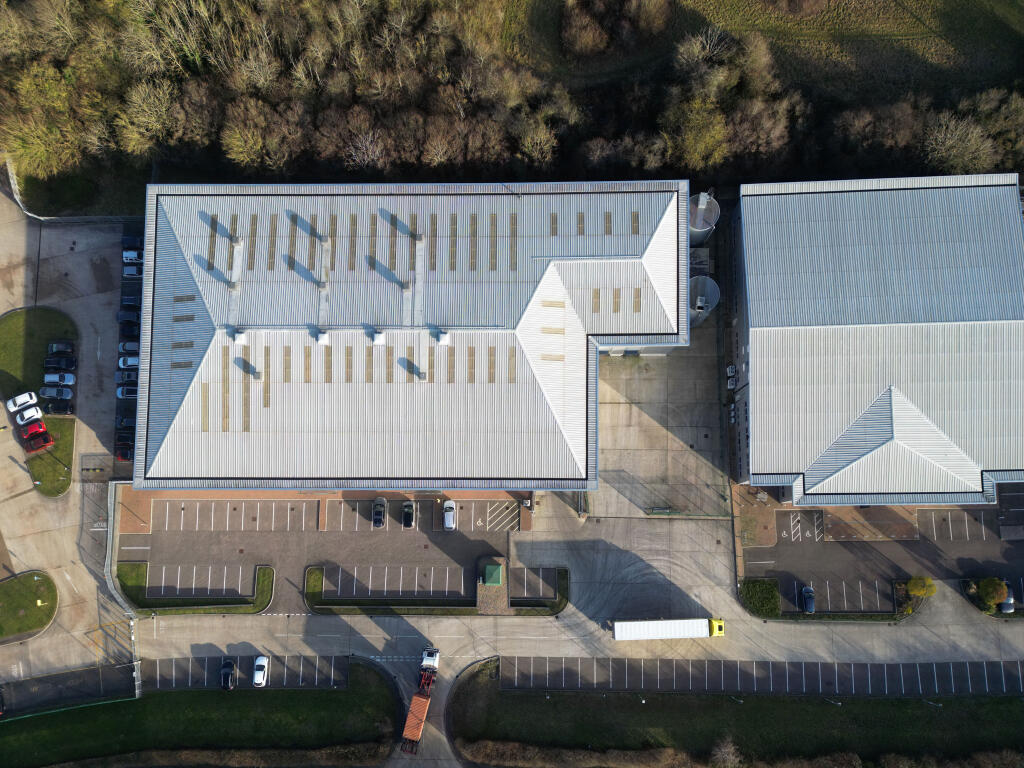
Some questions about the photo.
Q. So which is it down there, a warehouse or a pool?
warehouse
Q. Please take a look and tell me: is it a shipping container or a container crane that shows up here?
shipping container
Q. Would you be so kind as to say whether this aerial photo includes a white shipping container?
No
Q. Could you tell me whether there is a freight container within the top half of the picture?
No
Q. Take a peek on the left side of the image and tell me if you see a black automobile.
Yes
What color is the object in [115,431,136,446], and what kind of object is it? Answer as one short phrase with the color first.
black car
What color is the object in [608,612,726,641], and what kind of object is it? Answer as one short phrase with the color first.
white truck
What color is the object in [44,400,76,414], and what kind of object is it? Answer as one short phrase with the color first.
black car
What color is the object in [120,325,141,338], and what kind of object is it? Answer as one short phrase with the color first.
black vehicle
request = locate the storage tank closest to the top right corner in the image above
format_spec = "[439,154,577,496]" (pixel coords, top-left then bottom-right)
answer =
[689,193,721,242]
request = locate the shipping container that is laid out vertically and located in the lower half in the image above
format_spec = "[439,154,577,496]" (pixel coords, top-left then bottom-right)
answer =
[402,690,431,743]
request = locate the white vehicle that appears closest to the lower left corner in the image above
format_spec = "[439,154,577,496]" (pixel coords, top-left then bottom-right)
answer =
[254,655,269,689]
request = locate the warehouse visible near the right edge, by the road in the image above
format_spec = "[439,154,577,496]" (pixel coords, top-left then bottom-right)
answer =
[728,174,1024,505]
